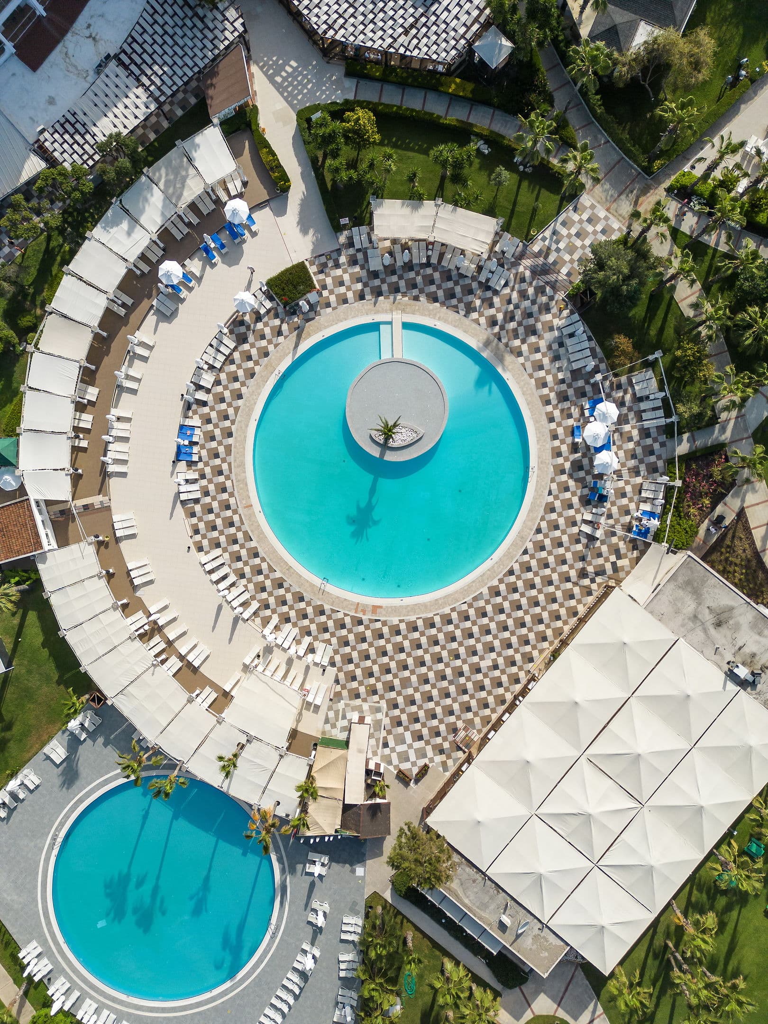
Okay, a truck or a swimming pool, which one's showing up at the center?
swimming pool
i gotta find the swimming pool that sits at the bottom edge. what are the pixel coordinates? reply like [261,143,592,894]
[39,762,289,1013]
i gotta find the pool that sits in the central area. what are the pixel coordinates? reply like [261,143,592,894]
[231,300,551,620]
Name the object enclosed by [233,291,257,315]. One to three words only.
umbrella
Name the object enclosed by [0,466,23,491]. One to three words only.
umbrella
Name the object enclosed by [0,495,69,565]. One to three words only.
house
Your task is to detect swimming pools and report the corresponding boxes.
[39,762,289,1013]
[231,300,551,620]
